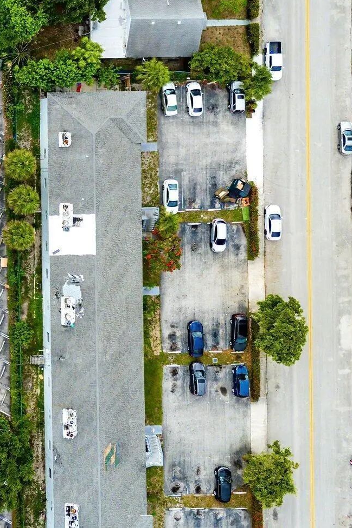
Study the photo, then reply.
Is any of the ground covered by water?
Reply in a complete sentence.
No, no water is visible.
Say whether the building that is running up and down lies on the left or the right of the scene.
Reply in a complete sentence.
The building that is running up and down is on the left side of the image.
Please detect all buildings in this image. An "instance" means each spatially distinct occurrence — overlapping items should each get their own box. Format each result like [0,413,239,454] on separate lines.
[37,90,163,528]
[84,0,212,59]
